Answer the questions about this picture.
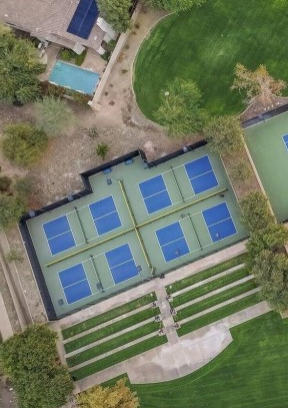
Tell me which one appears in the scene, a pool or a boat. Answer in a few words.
pool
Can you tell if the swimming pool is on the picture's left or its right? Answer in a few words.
left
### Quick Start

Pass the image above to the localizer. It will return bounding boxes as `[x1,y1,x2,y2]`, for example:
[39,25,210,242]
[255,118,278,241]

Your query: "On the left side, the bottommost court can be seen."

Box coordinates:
[41,230,154,317]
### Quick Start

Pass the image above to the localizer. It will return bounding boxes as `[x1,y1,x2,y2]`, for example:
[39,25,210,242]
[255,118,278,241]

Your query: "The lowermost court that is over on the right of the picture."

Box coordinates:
[136,187,249,276]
